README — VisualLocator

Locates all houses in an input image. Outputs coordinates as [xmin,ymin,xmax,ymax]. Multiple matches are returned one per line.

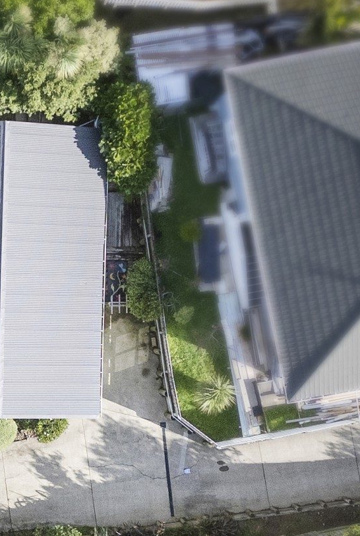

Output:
[202,36,360,412]
[0,118,108,421]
